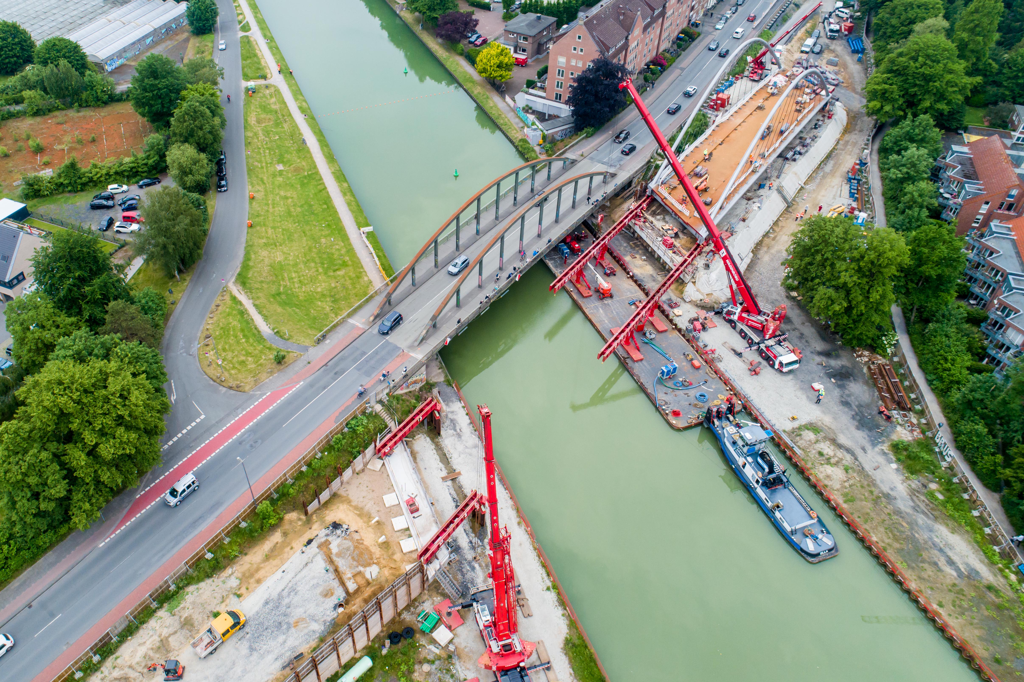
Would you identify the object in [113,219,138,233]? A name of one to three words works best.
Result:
car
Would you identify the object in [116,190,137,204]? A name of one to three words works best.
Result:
car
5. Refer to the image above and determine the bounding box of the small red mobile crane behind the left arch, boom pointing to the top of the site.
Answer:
[745,0,824,78]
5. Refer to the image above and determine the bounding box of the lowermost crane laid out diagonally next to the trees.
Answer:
[598,76,803,374]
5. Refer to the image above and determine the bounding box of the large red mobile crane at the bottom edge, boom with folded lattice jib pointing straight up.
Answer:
[458,399,539,682]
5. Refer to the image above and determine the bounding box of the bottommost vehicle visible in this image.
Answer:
[150,658,192,682]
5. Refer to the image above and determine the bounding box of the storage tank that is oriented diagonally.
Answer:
[334,653,373,682]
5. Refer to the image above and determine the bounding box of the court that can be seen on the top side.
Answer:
[0,103,152,180]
